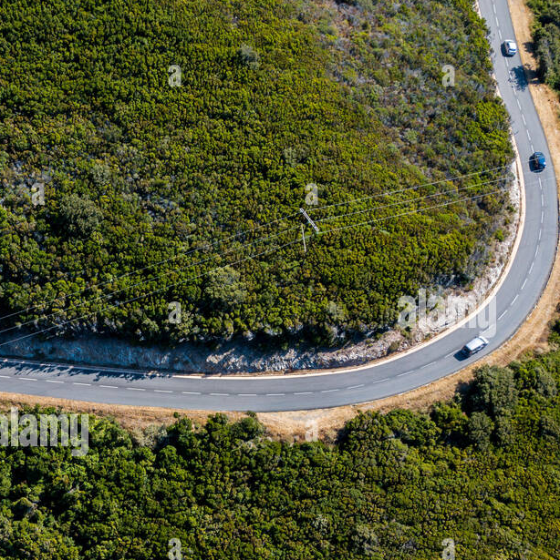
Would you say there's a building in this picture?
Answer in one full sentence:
No, there is no building in the image.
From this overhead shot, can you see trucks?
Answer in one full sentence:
No, I can see no truck in this picture.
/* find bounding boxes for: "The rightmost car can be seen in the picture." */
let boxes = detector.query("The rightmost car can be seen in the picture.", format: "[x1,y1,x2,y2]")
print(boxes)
[532,153,546,170]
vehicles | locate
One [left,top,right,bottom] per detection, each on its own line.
[503,39,517,57]
[462,337,487,355]
[532,153,546,170]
